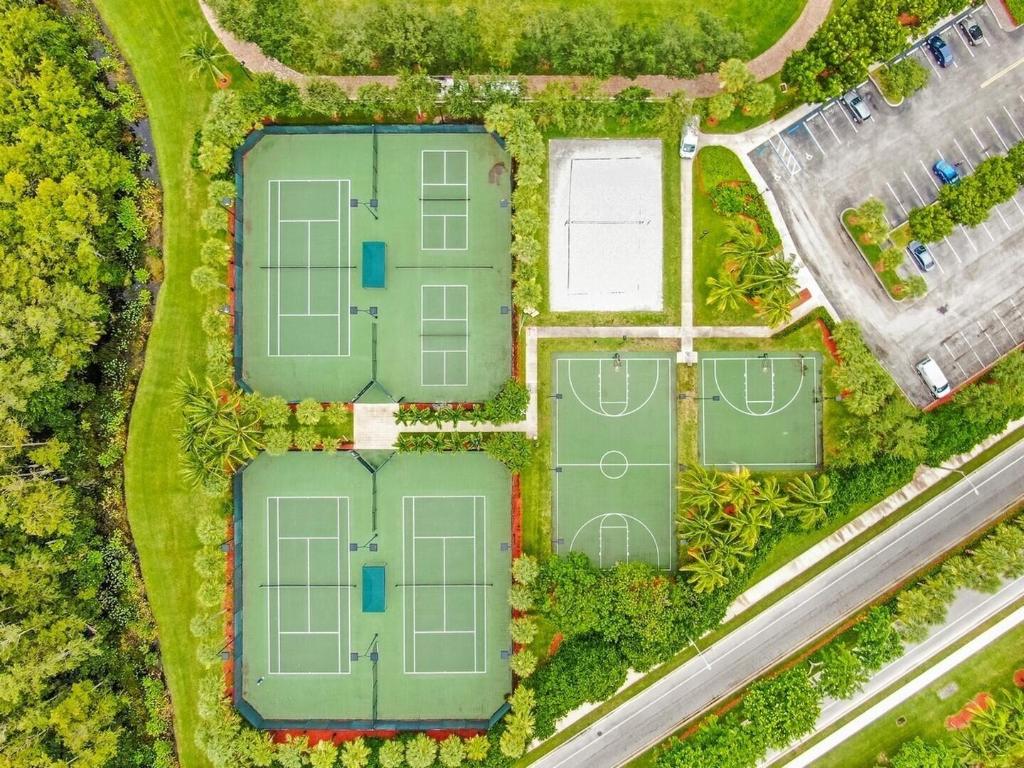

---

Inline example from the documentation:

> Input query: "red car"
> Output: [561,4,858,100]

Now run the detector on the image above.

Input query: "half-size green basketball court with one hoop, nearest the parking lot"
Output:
[699,352,823,470]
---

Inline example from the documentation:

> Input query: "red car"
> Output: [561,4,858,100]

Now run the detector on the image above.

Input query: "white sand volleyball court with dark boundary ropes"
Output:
[549,139,663,311]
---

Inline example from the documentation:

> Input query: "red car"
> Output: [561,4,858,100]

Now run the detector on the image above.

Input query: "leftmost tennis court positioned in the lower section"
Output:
[259,497,355,674]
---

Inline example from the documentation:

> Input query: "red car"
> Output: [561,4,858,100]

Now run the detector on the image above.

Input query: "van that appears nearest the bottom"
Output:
[915,357,948,395]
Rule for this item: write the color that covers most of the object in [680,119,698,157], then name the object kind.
white vehicle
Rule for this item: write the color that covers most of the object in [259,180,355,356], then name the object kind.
green tennis court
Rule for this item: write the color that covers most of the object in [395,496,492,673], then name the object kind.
green tennis court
